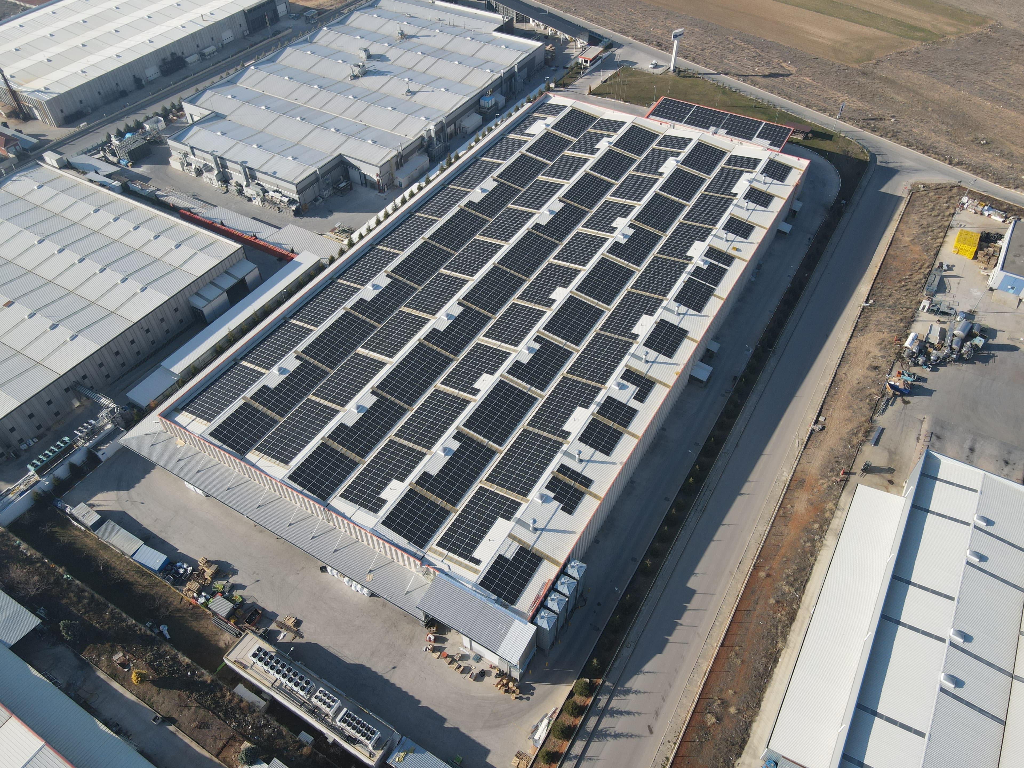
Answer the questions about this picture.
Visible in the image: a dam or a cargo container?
cargo container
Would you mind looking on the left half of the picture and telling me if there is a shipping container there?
Yes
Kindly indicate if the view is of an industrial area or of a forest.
industrial area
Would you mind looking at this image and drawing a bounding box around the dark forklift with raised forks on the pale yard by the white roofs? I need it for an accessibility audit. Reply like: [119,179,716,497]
[858,458,875,476]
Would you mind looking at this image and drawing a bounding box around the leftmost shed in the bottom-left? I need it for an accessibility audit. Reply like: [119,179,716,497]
[0,588,55,662]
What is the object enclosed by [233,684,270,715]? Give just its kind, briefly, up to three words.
shed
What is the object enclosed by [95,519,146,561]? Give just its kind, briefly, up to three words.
shipping container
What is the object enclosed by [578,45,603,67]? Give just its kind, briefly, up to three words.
building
